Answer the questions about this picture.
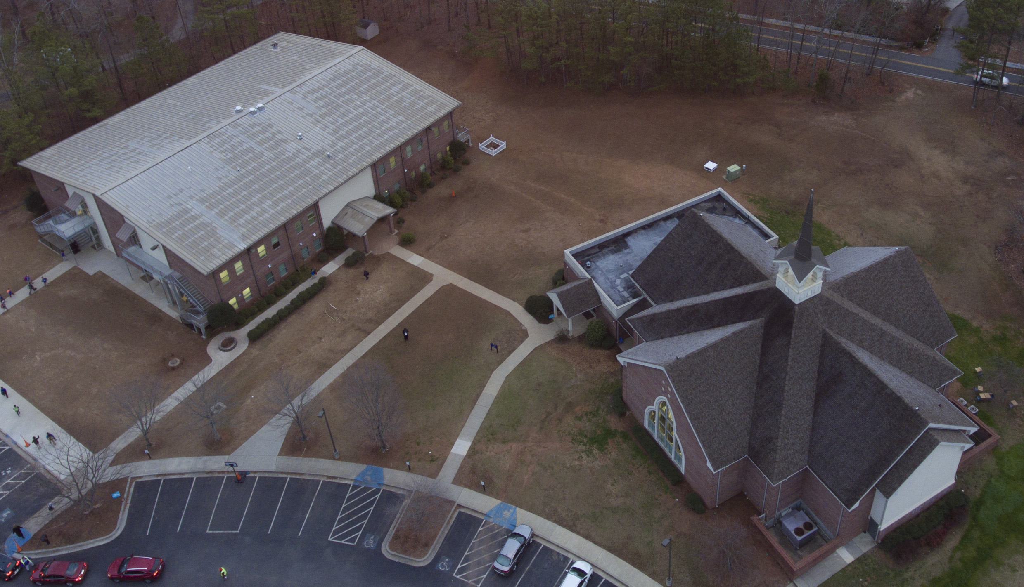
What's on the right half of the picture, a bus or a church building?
church building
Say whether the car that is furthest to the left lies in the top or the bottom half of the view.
bottom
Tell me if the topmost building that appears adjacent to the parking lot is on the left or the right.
left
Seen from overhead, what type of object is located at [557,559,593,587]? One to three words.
car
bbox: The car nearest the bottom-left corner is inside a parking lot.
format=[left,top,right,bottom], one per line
[0,552,20,582]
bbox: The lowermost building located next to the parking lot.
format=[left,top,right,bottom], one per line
[564,189,980,559]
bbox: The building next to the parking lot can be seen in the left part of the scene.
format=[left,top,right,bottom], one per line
[18,31,461,311]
